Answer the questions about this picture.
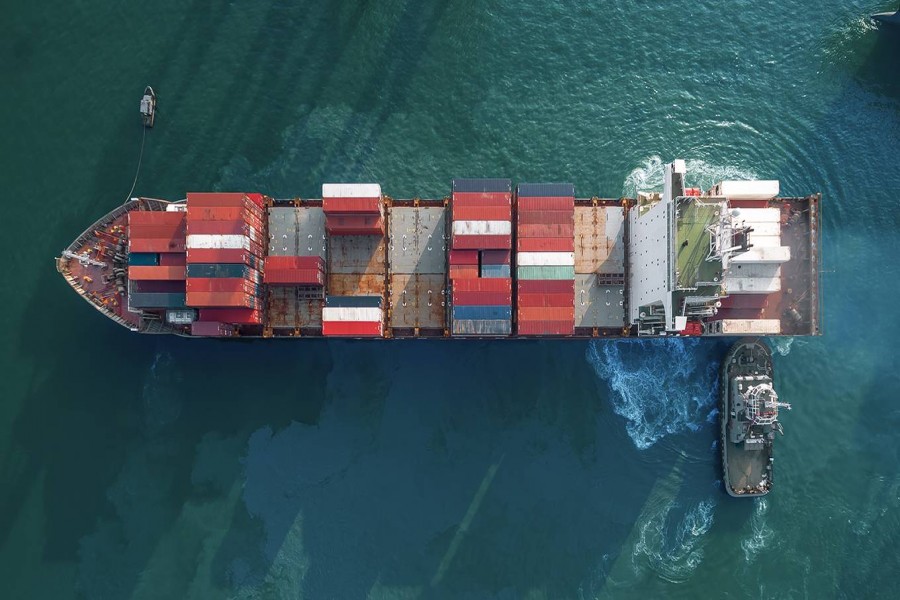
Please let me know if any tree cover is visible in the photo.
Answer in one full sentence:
No, no tree cover is visible.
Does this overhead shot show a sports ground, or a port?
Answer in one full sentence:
This image shows a port.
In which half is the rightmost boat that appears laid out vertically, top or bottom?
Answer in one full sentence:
It is in the bottom half that the rightmost boat that appears laid out vertically appears.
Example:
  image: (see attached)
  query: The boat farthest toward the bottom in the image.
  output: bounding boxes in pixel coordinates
[721,338,793,499]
